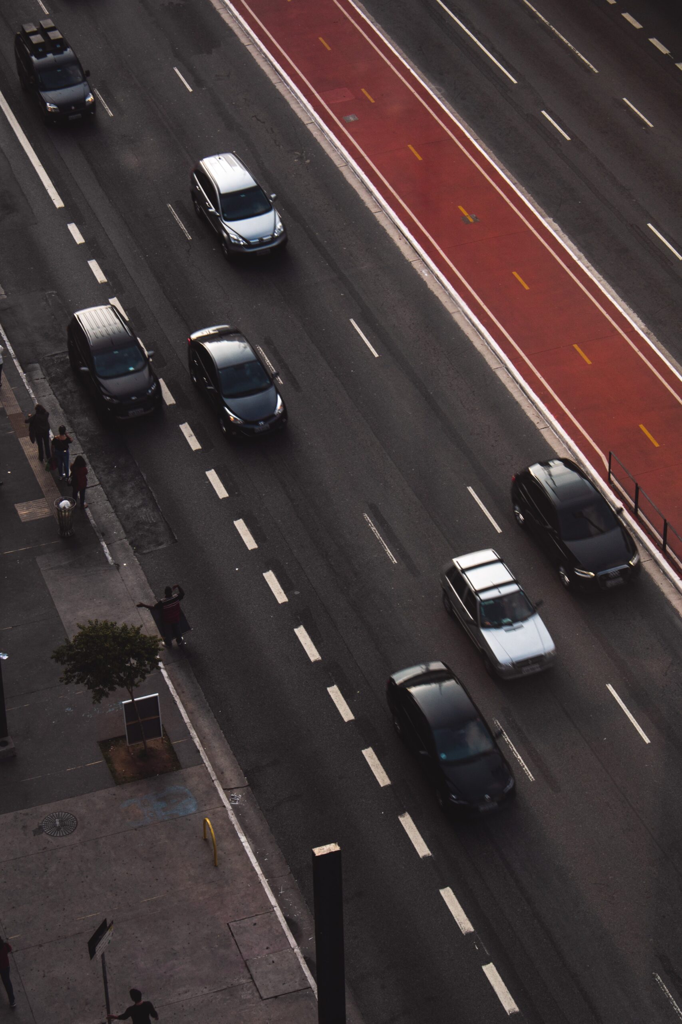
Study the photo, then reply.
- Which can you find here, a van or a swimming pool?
van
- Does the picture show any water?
No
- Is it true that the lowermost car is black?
Yes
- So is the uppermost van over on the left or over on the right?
left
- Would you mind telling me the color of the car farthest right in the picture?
black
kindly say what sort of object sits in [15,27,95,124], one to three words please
van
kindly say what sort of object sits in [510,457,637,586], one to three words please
car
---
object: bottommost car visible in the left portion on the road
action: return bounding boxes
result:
[187,327,288,437]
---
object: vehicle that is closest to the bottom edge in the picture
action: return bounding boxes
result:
[383,662,516,814]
